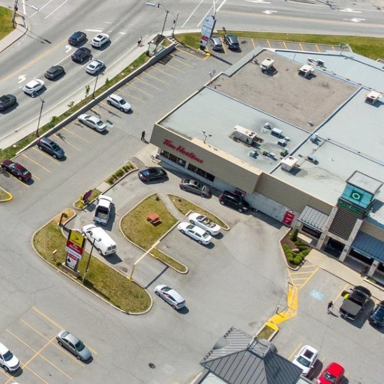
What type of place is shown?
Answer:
parking lot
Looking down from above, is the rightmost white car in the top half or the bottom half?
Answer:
bottom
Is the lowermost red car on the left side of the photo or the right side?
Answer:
right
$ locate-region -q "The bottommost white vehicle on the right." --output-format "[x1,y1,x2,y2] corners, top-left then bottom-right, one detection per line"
[293,342,322,379]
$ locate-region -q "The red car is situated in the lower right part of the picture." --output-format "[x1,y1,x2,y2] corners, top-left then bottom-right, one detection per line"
[316,361,347,384]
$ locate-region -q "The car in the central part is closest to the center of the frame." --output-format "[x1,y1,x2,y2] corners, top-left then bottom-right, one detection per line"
[176,178,215,200]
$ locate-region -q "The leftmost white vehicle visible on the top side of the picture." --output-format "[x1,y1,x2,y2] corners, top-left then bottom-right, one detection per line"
[20,80,47,97]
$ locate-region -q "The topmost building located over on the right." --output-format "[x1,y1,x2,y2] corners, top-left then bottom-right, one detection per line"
[148,48,384,271]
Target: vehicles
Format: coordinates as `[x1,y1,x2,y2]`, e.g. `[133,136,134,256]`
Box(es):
[43,64,67,81]
[83,60,106,76]
[0,95,18,111]
[316,361,347,384]
[293,342,322,379]
[0,339,25,376]
[223,31,240,50]
[93,193,114,227]
[36,135,67,160]
[151,283,191,312]
[134,167,172,182]
[76,112,106,134]
[81,224,119,259]
[67,31,88,47]
[1,159,32,182]
[106,93,132,112]
[20,80,47,97]
[176,178,215,200]
[367,299,384,329]
[336,285,372,321]
[215,190,254,215]
[175,221,216,248]
[52,328,97,365]
[185,211,224,237]
[69,47,92,63]
[89,32,111,48]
